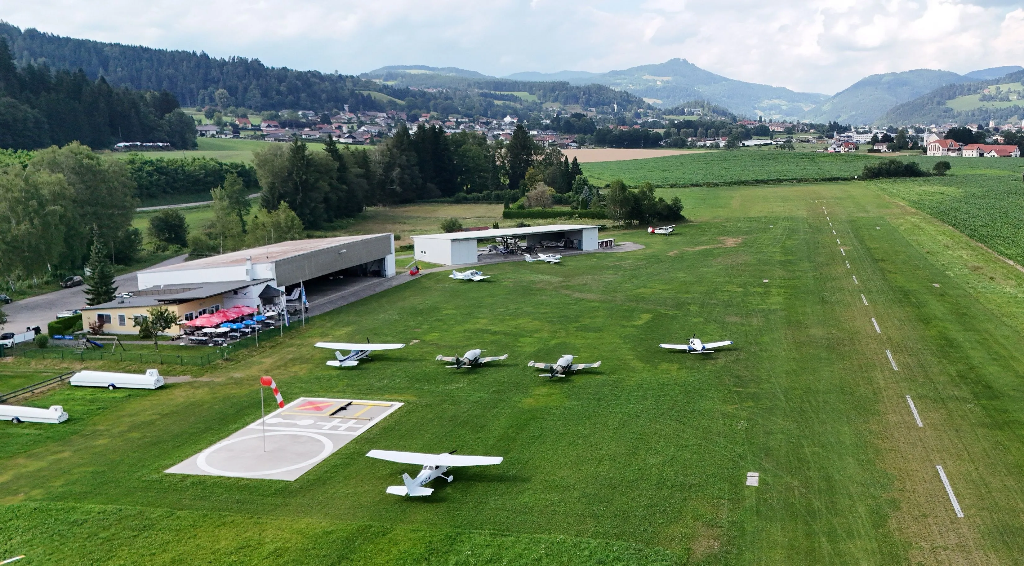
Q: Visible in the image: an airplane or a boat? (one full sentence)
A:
There is an airplane in the scene.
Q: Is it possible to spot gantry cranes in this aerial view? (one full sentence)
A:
No, there appears to be no gantry crane in this shot.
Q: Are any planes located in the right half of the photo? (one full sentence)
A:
Yes, a plane appears in the right half of the photo.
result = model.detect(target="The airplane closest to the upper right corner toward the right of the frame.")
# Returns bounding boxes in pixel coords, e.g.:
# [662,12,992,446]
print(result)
[648,223,678,235]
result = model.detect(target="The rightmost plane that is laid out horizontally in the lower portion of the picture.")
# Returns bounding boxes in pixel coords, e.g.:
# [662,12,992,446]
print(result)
[661,335,732,354]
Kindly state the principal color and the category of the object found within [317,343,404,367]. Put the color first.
white airplane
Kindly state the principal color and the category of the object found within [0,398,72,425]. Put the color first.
white trailer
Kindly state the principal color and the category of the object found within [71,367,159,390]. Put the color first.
white trailer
